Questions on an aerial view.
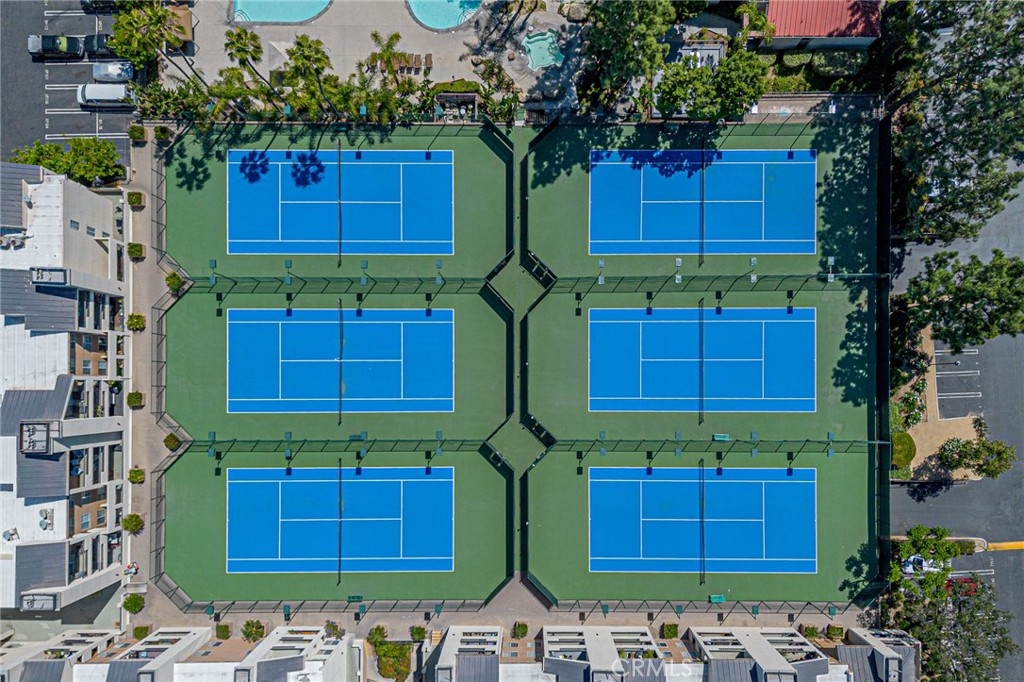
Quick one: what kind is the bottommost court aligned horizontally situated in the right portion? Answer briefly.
tennis court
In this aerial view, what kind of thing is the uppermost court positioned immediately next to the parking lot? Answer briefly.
tennis court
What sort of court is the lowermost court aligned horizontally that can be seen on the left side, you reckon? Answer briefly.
tennis court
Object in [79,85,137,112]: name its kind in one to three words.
vehicle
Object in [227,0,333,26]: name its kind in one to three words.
swimming pool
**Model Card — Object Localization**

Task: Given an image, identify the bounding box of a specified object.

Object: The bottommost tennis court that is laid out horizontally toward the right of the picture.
[527,441,877,601]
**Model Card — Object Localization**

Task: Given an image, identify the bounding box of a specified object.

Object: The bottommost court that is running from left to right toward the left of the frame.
[164,441,513,601]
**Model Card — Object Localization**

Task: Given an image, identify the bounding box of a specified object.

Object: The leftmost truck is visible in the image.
[29,35,88,62]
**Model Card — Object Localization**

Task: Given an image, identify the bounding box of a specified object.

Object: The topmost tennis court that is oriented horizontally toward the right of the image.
[527,123,877,281]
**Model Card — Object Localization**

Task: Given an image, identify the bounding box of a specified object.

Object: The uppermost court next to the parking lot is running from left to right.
[163,123,513,281]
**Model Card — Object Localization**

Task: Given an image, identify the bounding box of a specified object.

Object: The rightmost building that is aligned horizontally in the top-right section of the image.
[766,0,886,49]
